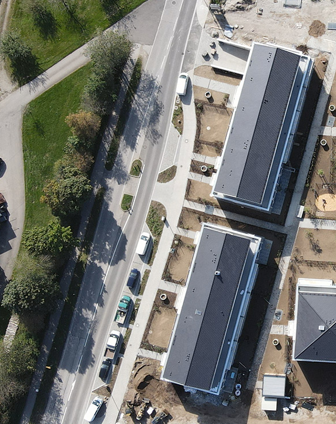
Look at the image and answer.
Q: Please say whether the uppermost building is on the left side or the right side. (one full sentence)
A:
It is on the right.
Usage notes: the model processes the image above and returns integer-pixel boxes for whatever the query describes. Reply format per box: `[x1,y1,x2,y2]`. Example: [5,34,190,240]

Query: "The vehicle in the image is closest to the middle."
[135,231,151,257]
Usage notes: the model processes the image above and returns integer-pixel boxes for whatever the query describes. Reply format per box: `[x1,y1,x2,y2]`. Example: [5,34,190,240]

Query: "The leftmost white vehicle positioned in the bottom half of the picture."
[84,396,103,422]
